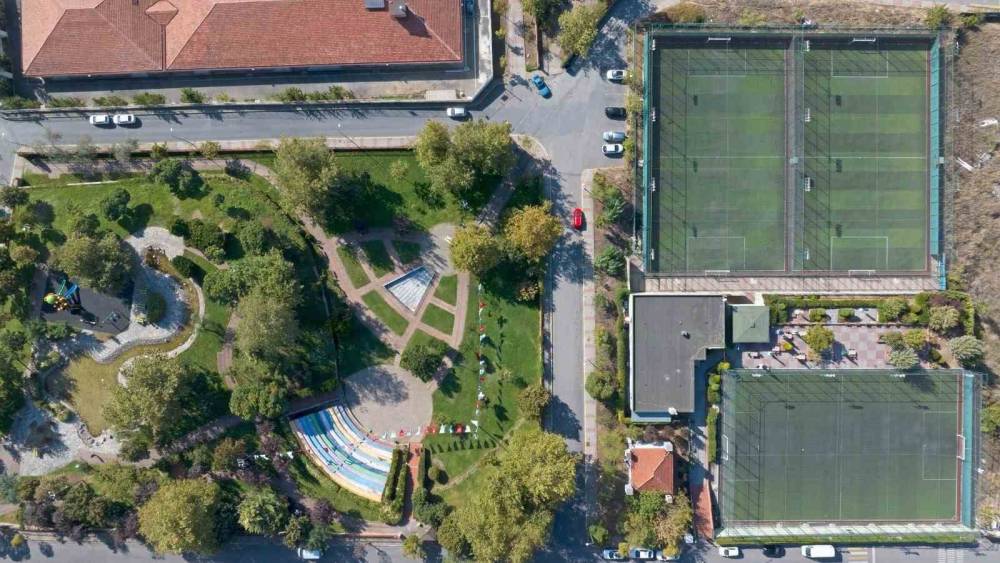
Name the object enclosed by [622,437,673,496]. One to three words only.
house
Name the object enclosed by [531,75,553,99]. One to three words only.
car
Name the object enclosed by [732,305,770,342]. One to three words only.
building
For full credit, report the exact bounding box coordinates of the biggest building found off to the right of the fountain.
[631,295,727,418]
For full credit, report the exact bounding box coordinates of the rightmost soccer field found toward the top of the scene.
[787,36,931,275]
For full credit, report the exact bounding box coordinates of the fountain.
[385,265,435,310]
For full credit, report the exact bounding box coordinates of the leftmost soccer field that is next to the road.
[642,36,788,275]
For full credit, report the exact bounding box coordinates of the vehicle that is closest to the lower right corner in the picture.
[801,544,838,559]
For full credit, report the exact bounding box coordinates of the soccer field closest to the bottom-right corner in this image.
[720,371,963,524]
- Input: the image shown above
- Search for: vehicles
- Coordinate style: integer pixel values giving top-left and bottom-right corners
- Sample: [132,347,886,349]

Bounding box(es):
[299,547,320,558]
[629,547,653,559]
[605,71,626,80]
[573,208,583,229]
[604,107,626,118]
[602,548,625,559]
[114,114,136,125]
[531,75,553,99]
[801,544,838,559]
[602,143,623,154]
[718,545,738,556]
[762,545,784,557]
[603,131,625,141]
[655,549,669,561]
[90,114,111,125]
[446,107,466,117]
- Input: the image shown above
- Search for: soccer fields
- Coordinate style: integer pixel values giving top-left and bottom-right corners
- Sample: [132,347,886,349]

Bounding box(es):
[720,371,963,524]
[642,36,788,275]
[787,36,931,275]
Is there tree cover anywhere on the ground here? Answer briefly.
Yes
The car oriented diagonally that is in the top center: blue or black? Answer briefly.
blue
